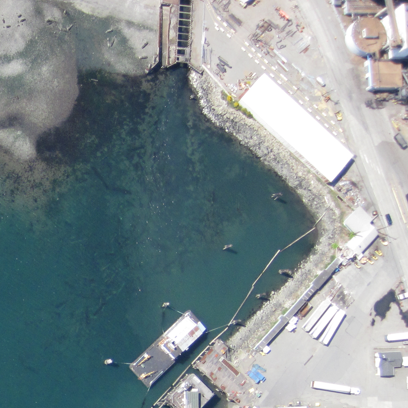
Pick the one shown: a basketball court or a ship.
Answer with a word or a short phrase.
ship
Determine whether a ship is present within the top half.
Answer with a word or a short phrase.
No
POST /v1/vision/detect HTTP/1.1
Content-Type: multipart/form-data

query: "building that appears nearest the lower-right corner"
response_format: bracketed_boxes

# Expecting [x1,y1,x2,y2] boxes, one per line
[371,352,408,376]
